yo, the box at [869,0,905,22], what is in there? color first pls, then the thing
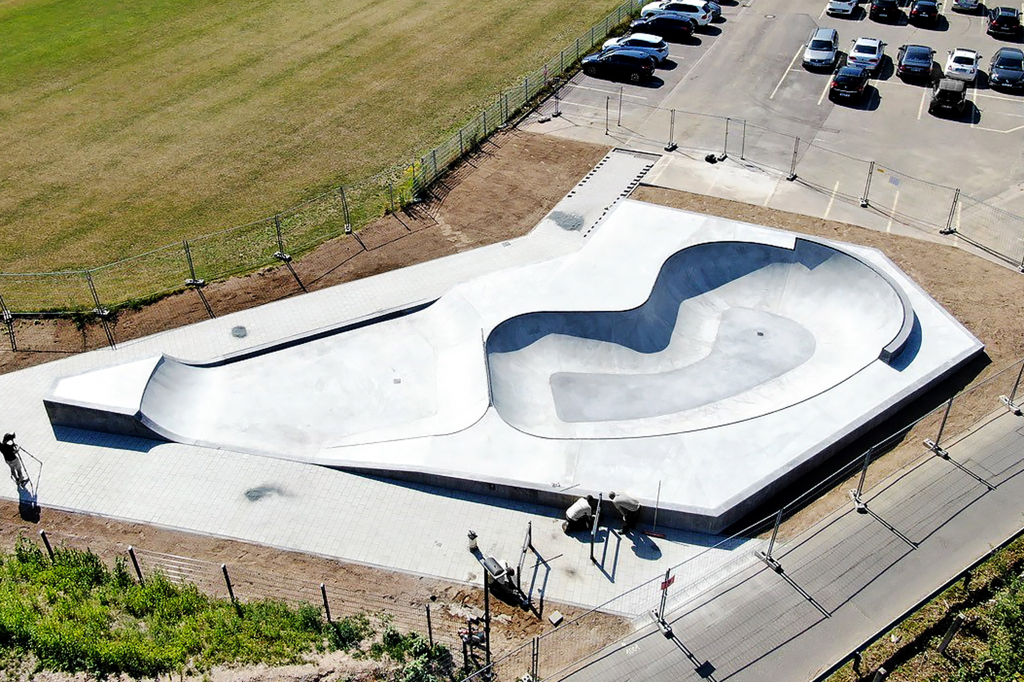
black car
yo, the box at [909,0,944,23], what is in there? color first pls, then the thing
black car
